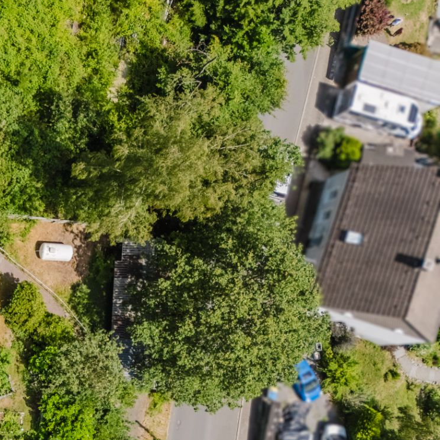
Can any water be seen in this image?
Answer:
No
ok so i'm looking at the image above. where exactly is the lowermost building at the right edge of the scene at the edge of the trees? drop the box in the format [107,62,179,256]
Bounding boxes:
[296,164,440,340]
